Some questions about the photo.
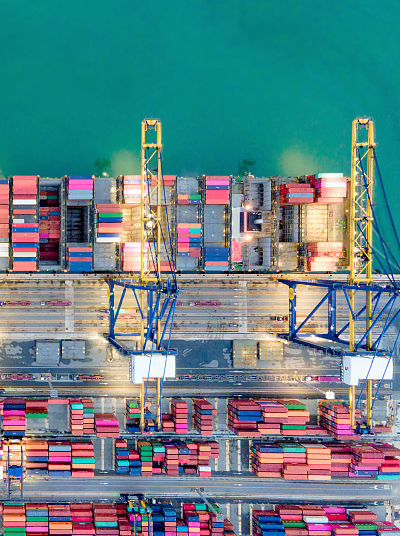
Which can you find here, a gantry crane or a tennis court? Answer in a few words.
gantry crane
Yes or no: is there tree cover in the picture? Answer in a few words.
No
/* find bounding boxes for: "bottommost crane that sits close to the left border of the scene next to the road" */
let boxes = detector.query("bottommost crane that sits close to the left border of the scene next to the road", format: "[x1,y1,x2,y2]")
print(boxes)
[2,438,25,501]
